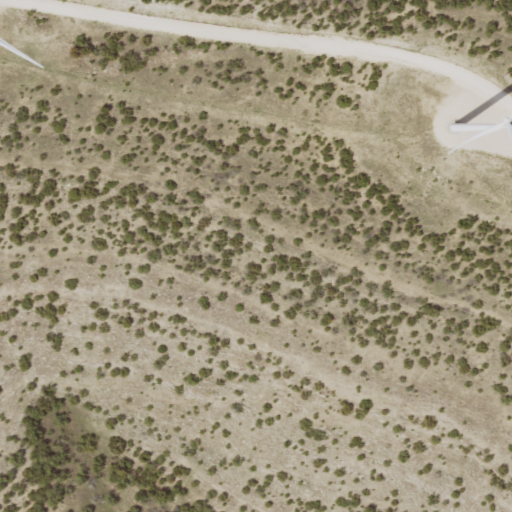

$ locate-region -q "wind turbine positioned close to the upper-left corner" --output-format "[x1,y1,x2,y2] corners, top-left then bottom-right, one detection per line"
[0,36,43,68]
